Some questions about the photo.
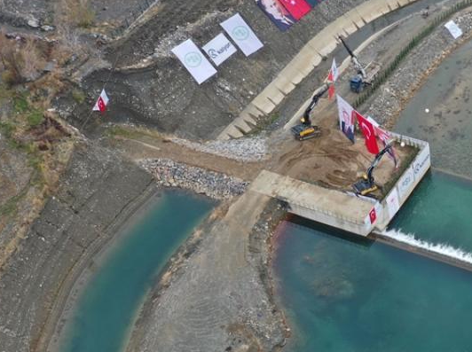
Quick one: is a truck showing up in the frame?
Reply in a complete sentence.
Yes, the photo shows a truck.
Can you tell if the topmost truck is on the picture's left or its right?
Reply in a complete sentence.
It is on the right.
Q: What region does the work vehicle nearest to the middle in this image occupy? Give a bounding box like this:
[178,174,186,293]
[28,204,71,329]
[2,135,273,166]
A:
[297,84,339,141]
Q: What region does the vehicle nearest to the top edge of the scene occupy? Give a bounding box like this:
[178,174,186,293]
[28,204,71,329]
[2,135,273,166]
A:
[339,37,387,87]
